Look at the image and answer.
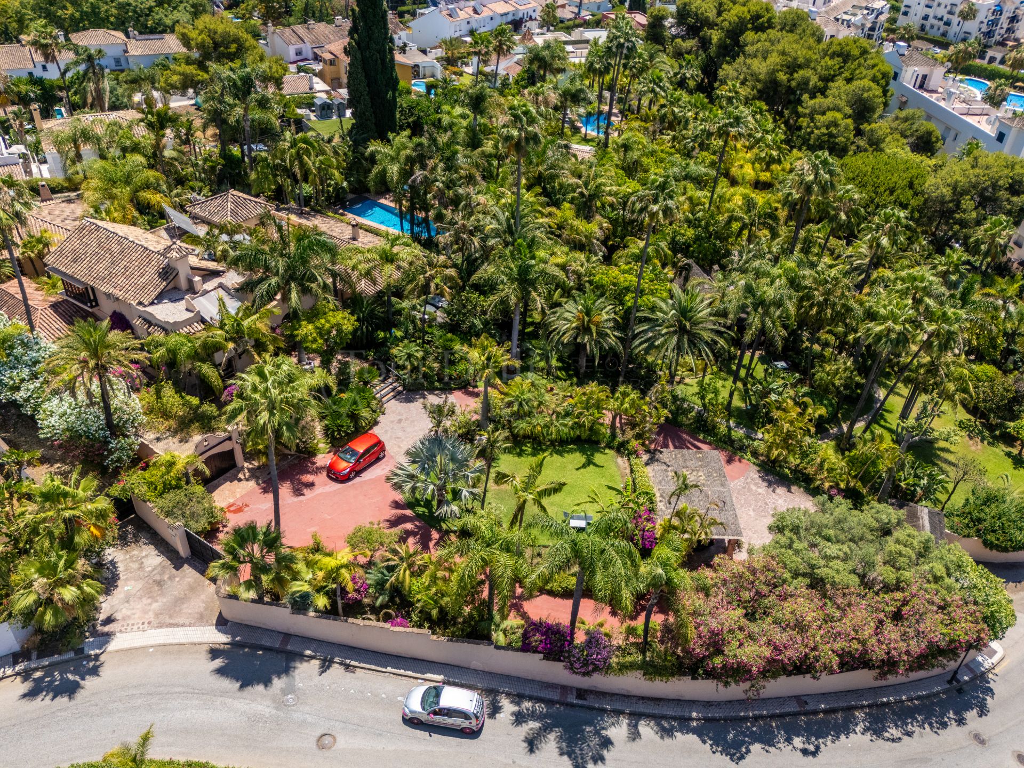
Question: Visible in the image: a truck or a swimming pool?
swimming pool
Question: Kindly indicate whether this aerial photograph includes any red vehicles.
Yes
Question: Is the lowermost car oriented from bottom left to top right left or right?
left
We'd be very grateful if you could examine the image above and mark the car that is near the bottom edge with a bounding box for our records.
[400,679,488,735]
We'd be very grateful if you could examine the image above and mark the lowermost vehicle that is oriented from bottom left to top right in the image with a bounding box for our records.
[327,431,388,479]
